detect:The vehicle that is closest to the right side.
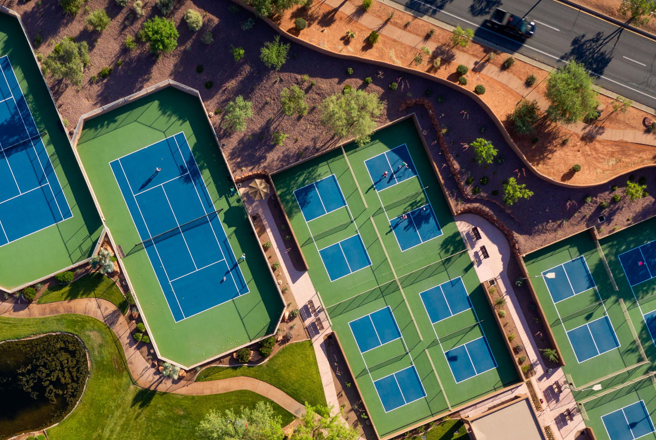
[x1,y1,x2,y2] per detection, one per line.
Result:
[487,5,538,39]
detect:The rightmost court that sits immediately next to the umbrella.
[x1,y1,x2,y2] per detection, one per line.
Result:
[271,144,396,307]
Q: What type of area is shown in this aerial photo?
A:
sports ground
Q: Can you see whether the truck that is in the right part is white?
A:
No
